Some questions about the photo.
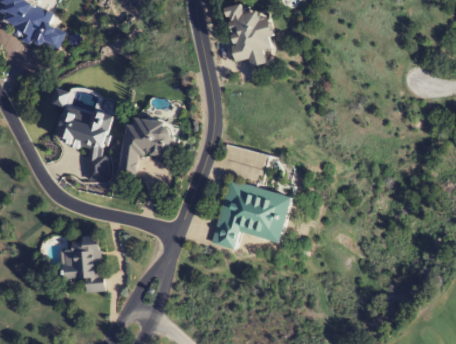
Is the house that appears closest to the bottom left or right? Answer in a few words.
left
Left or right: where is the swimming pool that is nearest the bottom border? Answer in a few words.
left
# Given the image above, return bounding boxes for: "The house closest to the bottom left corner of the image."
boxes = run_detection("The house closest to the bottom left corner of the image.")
[62,238,108,292]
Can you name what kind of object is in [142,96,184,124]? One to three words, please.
swimming pool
